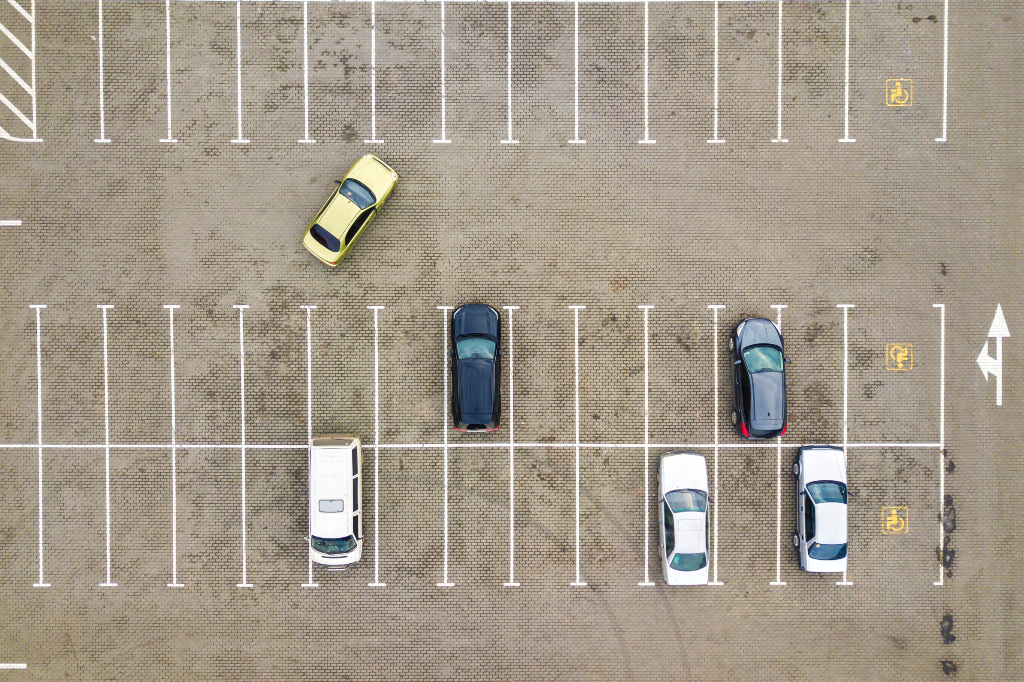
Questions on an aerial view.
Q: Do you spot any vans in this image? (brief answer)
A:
Yes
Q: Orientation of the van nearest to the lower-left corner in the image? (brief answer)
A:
vertically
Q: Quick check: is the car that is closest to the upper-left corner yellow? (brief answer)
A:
Yes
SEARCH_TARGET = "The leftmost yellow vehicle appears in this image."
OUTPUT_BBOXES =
[301,153,398,266]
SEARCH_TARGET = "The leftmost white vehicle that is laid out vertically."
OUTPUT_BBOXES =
[304,431,367,571]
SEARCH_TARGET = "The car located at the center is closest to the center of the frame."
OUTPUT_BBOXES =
[448,303,505,434]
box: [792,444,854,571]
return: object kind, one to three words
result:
car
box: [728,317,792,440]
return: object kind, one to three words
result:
car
